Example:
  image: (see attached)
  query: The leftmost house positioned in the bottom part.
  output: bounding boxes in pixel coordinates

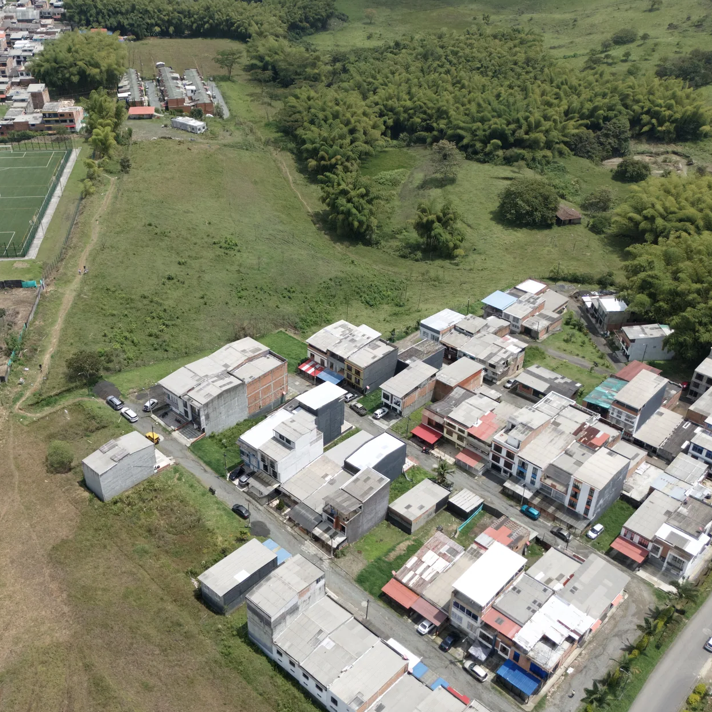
[80,432,177,500]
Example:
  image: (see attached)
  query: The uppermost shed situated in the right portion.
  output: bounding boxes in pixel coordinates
[550,207,582,224]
